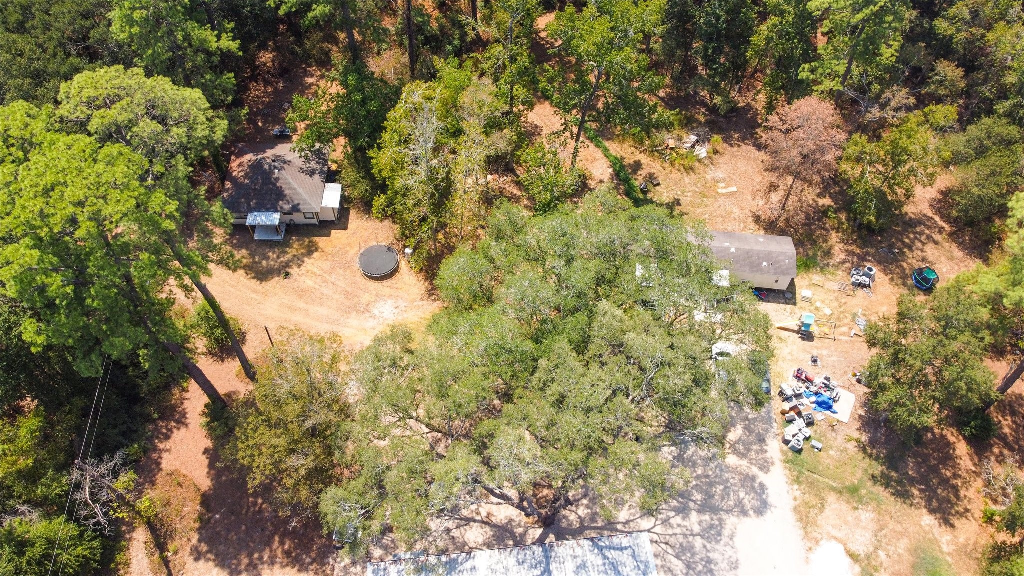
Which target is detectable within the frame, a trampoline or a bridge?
trampoline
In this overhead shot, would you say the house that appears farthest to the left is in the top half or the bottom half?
top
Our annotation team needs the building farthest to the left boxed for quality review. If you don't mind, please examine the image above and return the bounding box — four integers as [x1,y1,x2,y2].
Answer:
[215,143,345,247]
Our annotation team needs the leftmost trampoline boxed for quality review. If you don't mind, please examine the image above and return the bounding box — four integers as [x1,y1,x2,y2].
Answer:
[356,240,401,282]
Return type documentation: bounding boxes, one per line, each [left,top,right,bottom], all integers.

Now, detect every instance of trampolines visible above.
[356,240,401,282]
[910,266,943,295]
